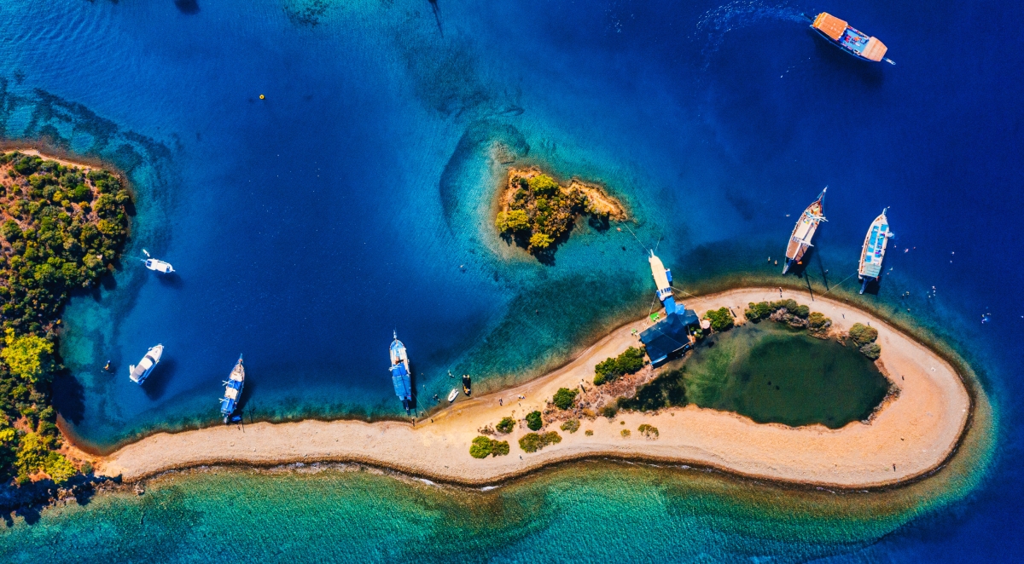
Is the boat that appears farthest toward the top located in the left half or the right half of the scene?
right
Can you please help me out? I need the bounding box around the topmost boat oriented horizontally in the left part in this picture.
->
[141,259,175,273]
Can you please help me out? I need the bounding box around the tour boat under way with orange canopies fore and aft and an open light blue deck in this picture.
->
[802,10,897,63]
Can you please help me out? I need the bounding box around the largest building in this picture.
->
[638,309,701,366]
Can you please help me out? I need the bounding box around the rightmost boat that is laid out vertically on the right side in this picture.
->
[859,208,889,293]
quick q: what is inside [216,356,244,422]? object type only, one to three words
boat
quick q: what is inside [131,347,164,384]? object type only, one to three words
boat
